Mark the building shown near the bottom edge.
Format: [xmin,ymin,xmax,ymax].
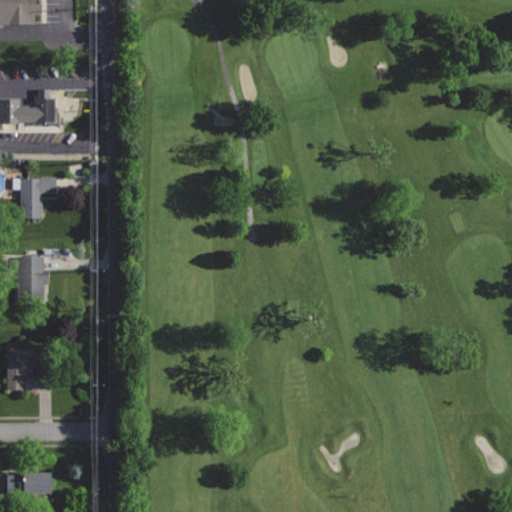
[6,472,52,496]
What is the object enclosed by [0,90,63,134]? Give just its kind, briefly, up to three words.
building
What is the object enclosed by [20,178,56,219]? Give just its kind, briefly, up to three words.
house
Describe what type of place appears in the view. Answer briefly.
golf course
